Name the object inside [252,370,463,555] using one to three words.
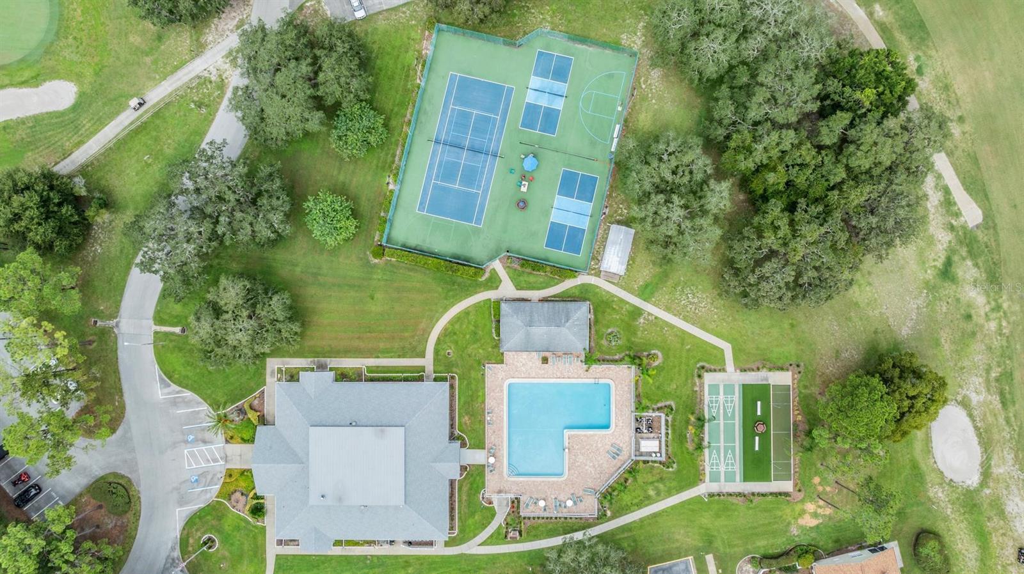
building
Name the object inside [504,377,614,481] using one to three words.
swimming pool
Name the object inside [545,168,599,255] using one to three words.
sports court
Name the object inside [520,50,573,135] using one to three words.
sports court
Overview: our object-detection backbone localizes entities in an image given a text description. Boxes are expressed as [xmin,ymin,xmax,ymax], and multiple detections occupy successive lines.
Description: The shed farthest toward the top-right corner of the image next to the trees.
[601,224,634,275]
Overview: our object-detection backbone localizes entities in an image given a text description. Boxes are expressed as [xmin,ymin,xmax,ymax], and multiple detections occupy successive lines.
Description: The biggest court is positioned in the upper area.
[386,32,635,271]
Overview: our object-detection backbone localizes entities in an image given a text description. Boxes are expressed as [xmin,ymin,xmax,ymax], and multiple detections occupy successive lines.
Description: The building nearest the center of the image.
[500,301,590,353]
